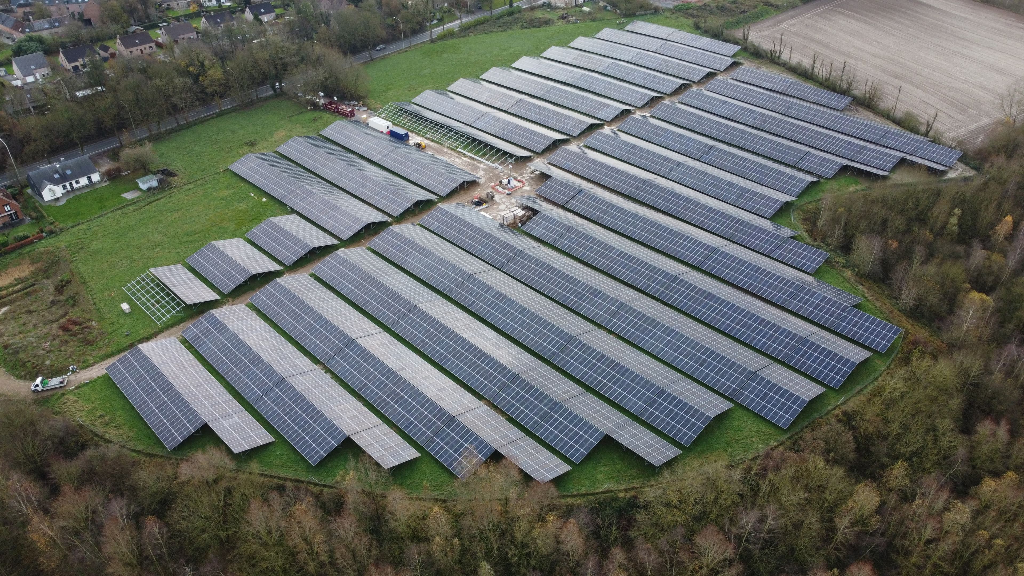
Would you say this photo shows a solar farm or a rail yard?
solar farm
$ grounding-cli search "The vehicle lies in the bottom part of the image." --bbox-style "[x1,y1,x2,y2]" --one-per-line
[26,376,70,393]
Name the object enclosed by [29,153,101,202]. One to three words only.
house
